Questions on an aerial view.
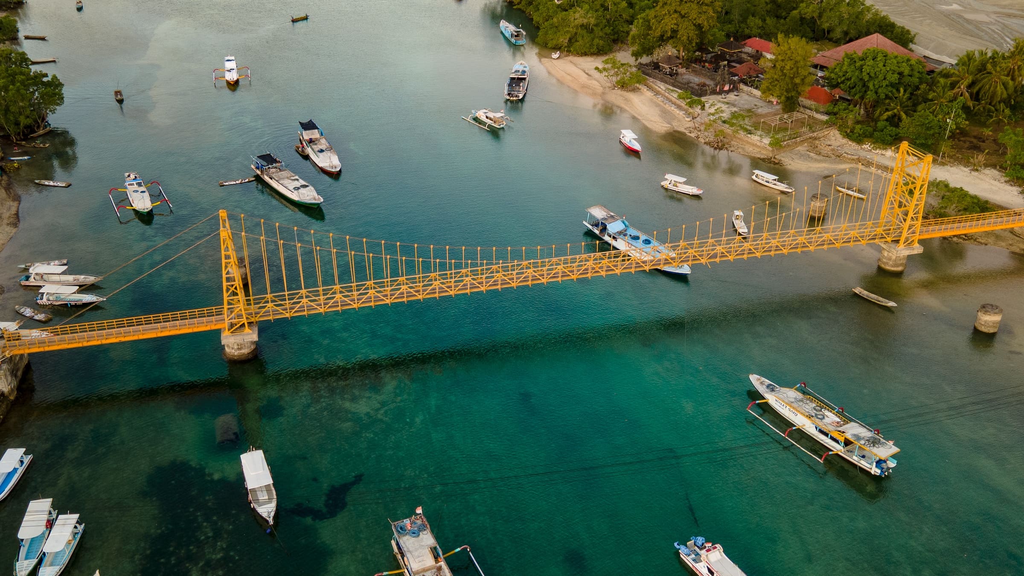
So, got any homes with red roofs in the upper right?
Yes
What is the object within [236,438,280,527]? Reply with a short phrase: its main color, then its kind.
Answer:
white boat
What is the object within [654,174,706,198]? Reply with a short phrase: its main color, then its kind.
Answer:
white boat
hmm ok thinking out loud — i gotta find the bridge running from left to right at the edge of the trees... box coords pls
[0,142,1024,362]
